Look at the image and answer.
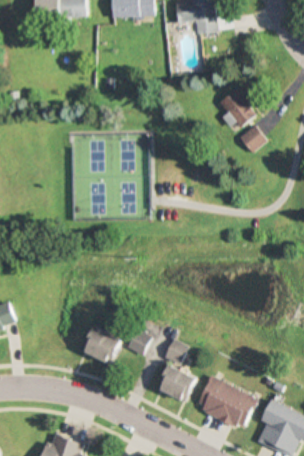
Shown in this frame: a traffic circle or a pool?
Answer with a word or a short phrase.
pool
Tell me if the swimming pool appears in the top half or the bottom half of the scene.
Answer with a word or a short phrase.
top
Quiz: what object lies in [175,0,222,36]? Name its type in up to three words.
house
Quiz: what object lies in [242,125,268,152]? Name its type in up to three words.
building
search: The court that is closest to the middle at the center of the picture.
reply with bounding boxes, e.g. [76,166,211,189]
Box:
[122,182,137,214]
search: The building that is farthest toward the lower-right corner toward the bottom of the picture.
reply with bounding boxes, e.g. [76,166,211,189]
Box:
[258,399,304,456]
